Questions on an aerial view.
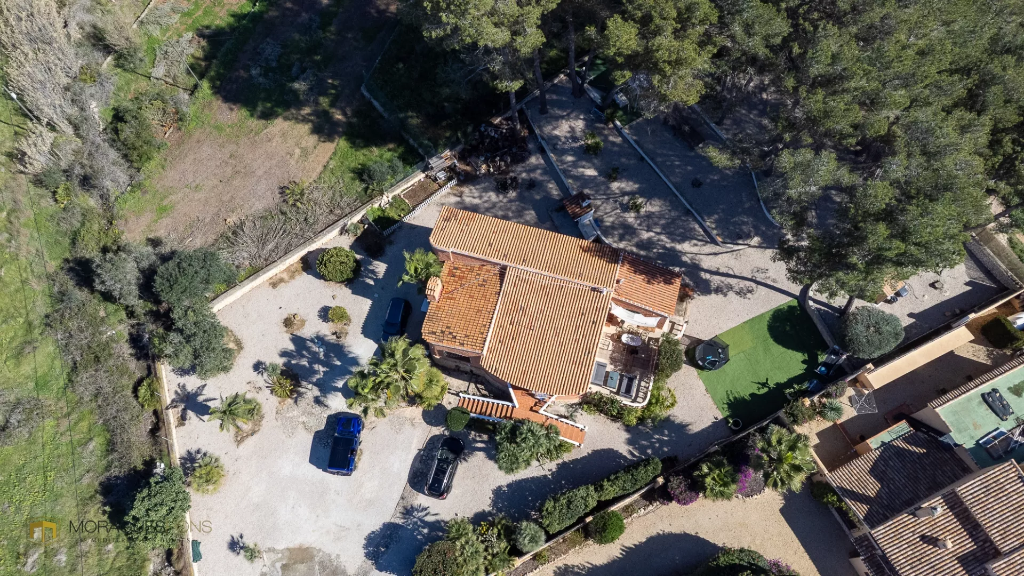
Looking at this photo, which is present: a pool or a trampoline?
trampoline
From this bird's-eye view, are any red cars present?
No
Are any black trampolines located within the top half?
No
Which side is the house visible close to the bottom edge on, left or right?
right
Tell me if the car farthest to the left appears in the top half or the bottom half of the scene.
bottom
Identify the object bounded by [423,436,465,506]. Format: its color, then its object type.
black car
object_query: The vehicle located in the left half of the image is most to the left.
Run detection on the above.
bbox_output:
[321,417,358,478]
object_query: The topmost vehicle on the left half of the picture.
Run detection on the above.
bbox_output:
[378,291,414,348]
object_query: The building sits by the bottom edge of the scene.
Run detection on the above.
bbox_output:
[816,353,1024,576]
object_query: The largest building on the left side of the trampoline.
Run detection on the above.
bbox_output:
[421,207,683,411]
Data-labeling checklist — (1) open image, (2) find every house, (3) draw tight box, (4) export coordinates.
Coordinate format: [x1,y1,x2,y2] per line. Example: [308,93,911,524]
[421,207,683,411]
[816,353,1024,576]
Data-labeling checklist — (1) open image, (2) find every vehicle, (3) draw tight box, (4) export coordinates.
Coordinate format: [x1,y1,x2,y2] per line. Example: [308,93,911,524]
[378,291,414,348]
[423,436,465,506]
[321,417,358,478]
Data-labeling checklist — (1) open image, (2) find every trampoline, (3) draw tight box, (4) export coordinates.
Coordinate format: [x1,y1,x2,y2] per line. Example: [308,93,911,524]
[687,333,733,379]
